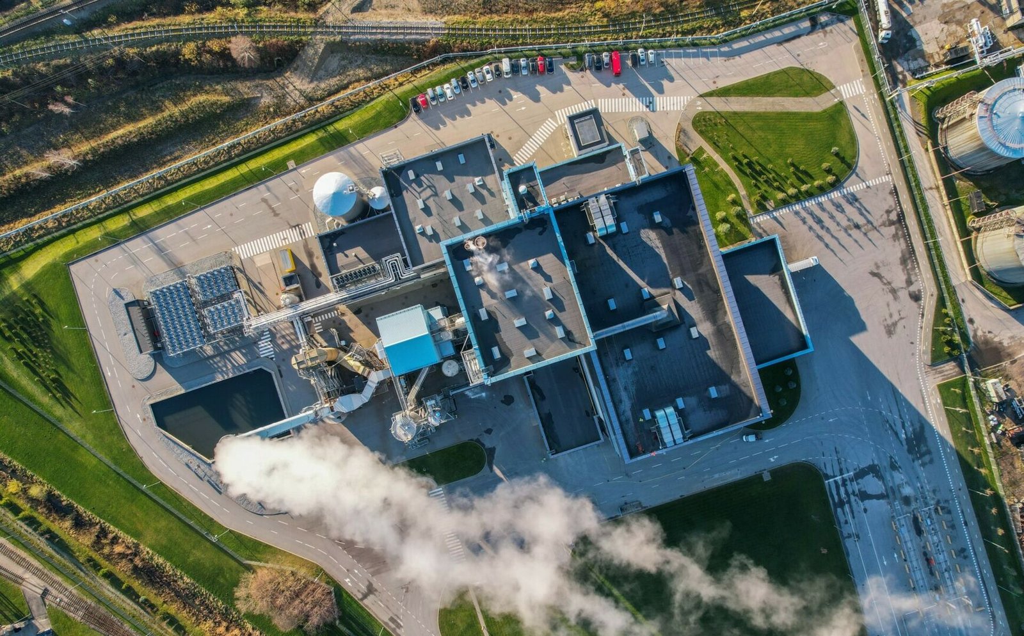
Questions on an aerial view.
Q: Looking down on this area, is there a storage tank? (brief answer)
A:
Yes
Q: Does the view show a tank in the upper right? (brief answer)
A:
Yes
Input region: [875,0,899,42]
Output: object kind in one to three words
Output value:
truck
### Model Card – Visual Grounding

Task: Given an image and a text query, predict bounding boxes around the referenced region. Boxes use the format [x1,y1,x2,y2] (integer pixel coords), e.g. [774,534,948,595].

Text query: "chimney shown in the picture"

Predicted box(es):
[213,392,339,454]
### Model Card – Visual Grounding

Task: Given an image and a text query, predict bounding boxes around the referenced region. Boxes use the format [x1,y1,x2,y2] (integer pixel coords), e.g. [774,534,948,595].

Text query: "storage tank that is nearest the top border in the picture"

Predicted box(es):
[932,77,1024,178]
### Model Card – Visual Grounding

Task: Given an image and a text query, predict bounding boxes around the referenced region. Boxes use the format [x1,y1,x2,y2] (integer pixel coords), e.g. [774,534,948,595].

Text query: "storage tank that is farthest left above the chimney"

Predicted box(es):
[312,172,370,227]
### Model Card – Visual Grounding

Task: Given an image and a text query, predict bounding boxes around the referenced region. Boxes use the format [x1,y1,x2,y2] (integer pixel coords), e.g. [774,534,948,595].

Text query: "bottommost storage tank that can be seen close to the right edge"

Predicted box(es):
[965,205,1024,292]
